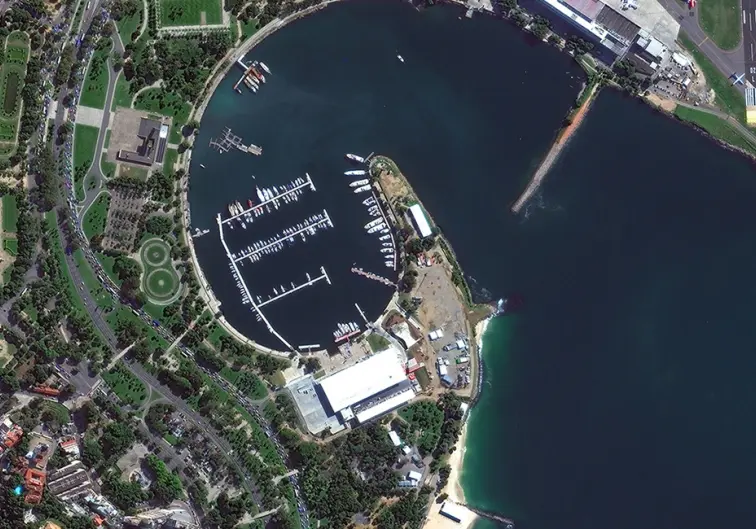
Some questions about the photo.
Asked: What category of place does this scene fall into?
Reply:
port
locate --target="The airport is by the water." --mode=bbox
[602,0,756,158]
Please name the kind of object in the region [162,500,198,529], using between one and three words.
house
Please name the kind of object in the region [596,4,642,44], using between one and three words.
hangar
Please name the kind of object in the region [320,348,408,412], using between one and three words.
building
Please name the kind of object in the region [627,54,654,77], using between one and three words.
shed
